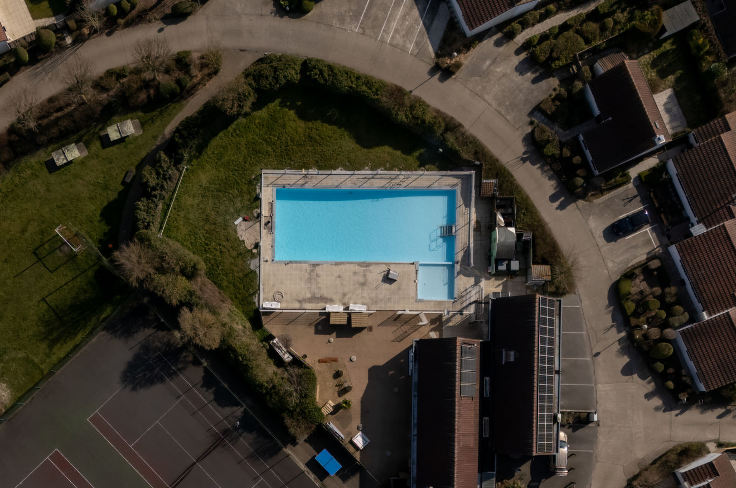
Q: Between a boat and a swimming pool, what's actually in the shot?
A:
swimming pool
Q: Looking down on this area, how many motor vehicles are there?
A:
2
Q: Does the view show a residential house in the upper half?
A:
Yes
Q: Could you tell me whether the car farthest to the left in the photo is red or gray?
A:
gray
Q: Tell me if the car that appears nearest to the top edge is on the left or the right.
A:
right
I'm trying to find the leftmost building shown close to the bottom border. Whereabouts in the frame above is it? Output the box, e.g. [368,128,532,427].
[406,337,482,488]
